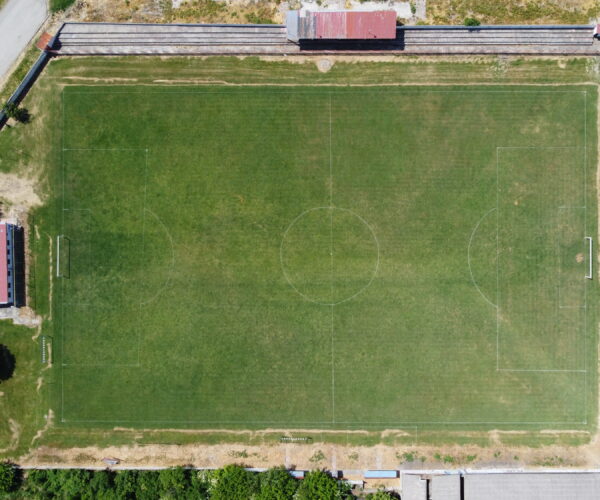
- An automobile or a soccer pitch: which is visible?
soccer pitch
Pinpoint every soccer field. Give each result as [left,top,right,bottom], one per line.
[53,87,595,446]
